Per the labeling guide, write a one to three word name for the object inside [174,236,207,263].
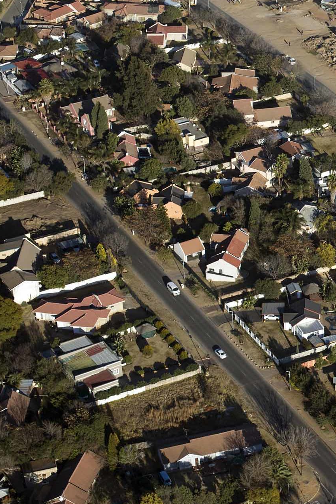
building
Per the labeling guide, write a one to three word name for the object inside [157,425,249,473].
house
